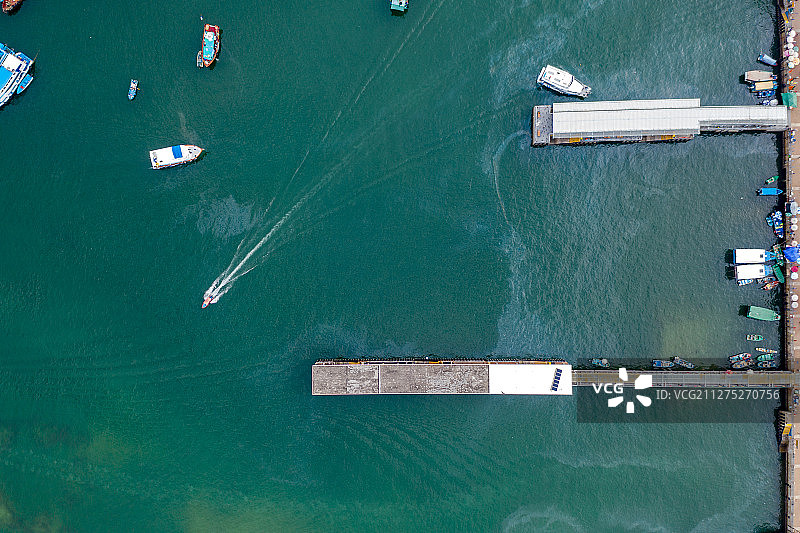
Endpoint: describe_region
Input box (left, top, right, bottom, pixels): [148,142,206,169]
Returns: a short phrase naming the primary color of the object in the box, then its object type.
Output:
white boat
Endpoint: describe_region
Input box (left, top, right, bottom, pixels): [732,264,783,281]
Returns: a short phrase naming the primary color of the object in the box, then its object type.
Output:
white vessel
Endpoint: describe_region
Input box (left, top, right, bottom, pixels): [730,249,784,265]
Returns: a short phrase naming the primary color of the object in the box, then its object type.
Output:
white vessel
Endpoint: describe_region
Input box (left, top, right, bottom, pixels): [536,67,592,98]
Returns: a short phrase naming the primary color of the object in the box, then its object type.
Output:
white boat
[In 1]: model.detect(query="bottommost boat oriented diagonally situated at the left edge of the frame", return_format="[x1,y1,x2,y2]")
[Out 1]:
[17,76,34,95]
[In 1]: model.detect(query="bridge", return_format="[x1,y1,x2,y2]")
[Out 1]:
[572,370,787,388]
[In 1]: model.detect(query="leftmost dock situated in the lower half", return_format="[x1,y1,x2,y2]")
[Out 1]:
[312,357,572,395]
